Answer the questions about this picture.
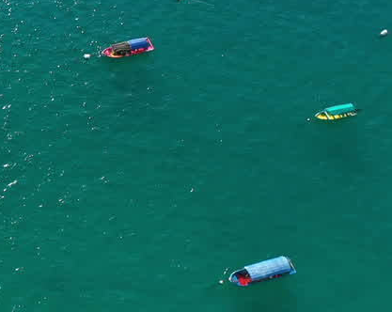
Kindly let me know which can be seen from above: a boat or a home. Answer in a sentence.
Looking from above, you can make out a boat.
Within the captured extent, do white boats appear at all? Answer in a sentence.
No, no white boat is visible in the scene.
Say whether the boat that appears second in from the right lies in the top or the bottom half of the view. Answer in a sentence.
Seen from above, the boat that appears second in from the right lies in the bottom half of the view.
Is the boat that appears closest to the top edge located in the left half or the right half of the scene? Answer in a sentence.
The boat that appears closest to the top edge sits on the left side.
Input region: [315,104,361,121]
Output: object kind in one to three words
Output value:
boat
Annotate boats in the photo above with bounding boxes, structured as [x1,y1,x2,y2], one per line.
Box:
[229,258,298,285]
[315,104,361,121]
[102,35,155,56]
